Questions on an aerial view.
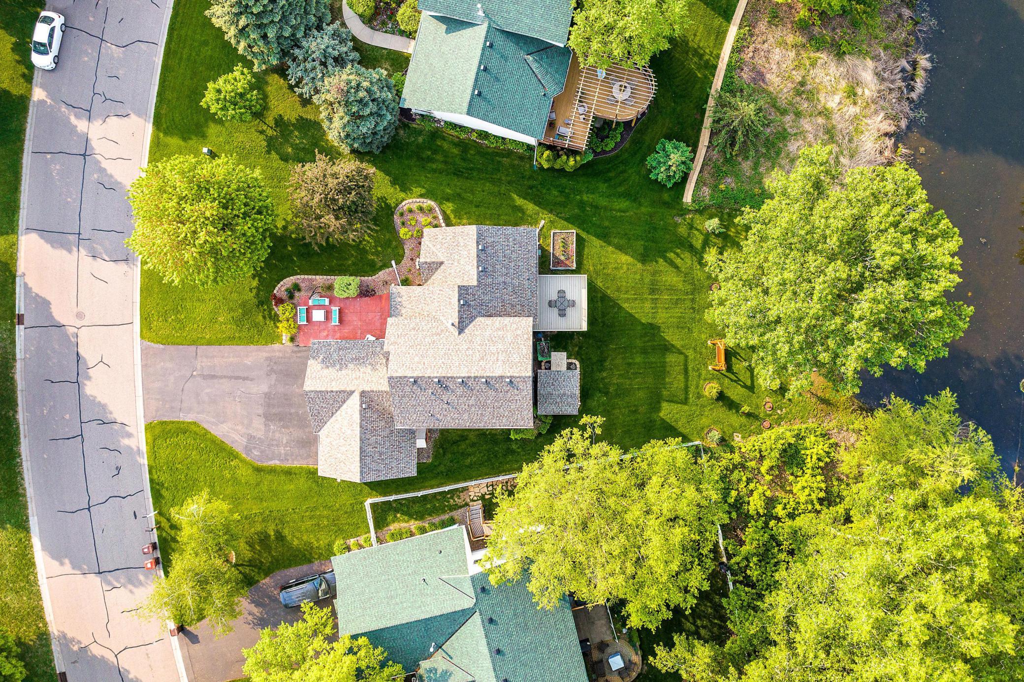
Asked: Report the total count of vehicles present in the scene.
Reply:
2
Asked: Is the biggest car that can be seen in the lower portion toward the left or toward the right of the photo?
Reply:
left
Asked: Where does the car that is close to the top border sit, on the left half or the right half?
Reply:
left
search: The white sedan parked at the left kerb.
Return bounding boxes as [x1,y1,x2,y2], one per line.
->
[30,11,69,71]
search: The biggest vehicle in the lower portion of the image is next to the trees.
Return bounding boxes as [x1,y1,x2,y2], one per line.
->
[278,569,335,608]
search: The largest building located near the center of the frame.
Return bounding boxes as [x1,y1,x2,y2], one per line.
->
[303,223,544,483]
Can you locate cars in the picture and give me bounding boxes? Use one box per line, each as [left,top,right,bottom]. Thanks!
[278,569,335,608]
[30,11,69,71]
